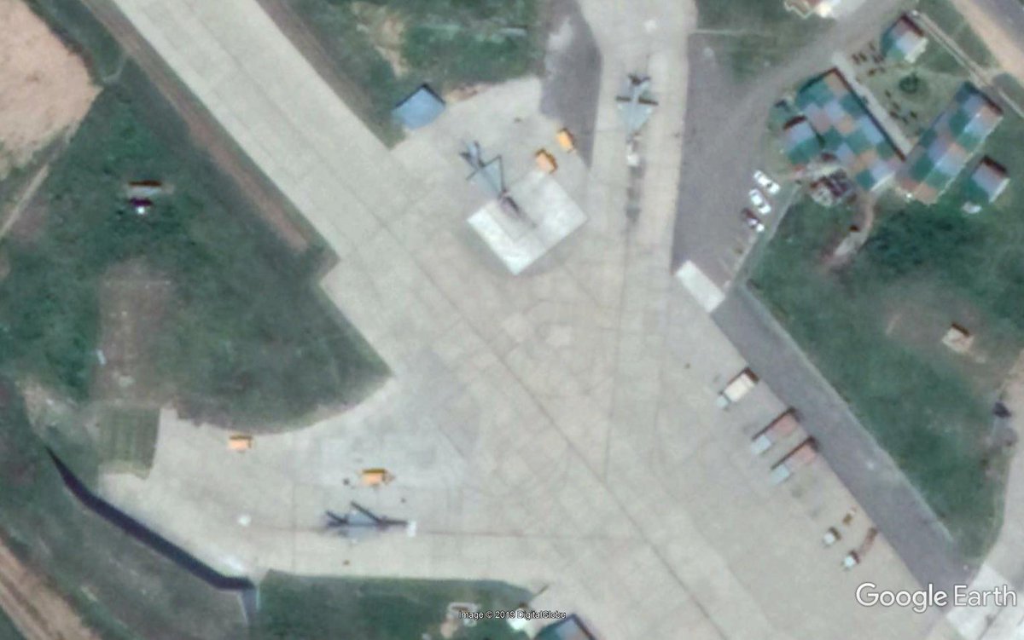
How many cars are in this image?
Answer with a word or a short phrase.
3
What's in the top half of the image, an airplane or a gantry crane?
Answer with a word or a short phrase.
airplane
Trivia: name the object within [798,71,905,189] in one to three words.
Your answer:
building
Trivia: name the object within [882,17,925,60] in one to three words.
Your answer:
shed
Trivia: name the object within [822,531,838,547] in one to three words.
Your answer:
work vehicle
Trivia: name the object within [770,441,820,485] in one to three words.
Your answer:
truck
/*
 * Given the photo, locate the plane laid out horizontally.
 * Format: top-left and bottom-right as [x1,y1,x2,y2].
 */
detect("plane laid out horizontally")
[329,508,414,549]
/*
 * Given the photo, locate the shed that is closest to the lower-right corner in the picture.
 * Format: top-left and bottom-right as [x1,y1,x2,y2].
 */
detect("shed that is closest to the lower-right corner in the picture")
[943,326,973,354]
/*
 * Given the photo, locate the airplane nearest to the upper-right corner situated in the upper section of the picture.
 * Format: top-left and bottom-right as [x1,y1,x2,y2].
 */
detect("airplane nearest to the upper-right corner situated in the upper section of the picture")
[614,81,654,165]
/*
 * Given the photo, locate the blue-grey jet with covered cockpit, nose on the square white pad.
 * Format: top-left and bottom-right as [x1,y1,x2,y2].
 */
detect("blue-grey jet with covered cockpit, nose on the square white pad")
[464,148,524,220]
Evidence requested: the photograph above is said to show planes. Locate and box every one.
[329,508,414,549]
[464,148,524,220]
[614,81,654,165]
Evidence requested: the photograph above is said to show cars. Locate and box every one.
[749,188,770,214]
[754,169,779,193]
[741,208,764,231]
